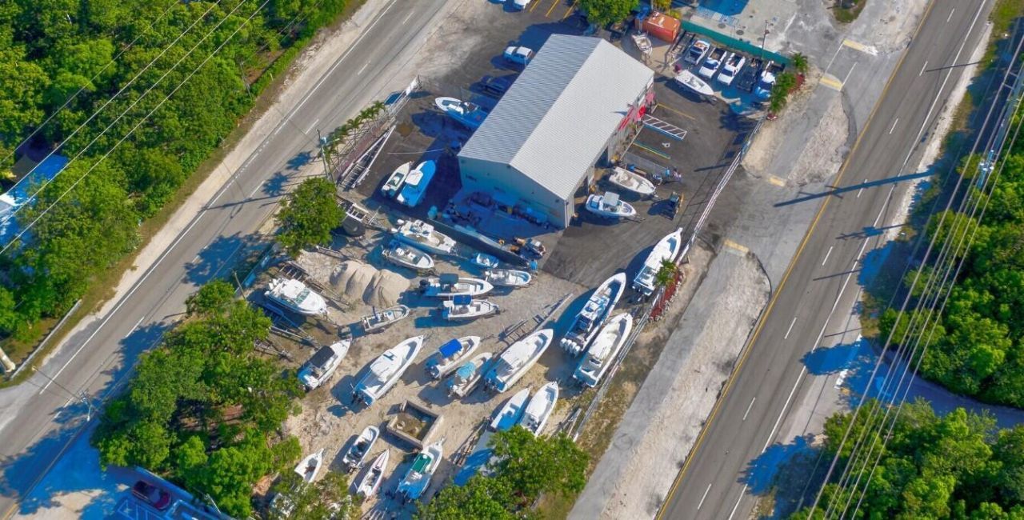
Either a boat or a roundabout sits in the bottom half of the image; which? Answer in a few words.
boat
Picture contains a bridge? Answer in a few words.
No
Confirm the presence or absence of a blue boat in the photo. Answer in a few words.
Yes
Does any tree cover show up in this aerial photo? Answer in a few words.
Yes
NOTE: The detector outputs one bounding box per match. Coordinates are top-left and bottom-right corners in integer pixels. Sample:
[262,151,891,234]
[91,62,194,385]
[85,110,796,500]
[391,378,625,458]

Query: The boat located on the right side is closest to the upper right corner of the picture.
[672,68,715,96]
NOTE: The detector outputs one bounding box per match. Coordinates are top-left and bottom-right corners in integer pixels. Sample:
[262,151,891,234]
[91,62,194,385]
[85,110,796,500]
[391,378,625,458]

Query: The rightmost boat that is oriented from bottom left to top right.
[633,230,682,301]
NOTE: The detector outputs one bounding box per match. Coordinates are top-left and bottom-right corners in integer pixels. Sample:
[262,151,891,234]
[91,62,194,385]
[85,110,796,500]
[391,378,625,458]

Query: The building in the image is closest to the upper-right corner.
[456,34,658,230]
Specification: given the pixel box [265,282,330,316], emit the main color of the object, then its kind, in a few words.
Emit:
white boat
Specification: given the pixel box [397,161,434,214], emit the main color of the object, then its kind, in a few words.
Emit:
blue boat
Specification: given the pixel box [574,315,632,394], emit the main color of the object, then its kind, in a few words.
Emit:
white boat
